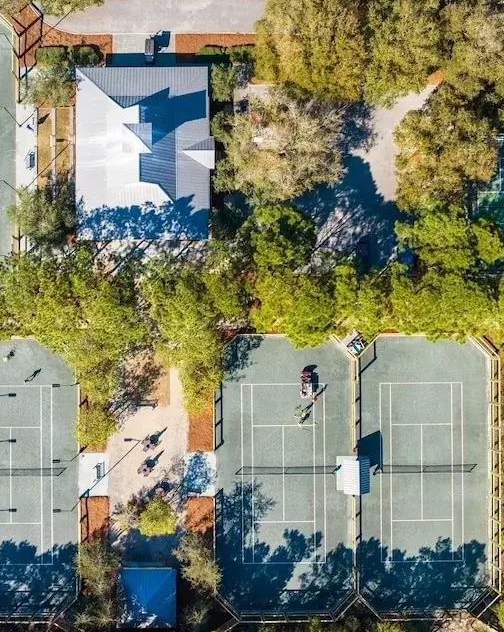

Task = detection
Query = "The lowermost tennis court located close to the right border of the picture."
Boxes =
[354,337,489,610]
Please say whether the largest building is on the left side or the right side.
left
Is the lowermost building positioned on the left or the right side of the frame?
left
